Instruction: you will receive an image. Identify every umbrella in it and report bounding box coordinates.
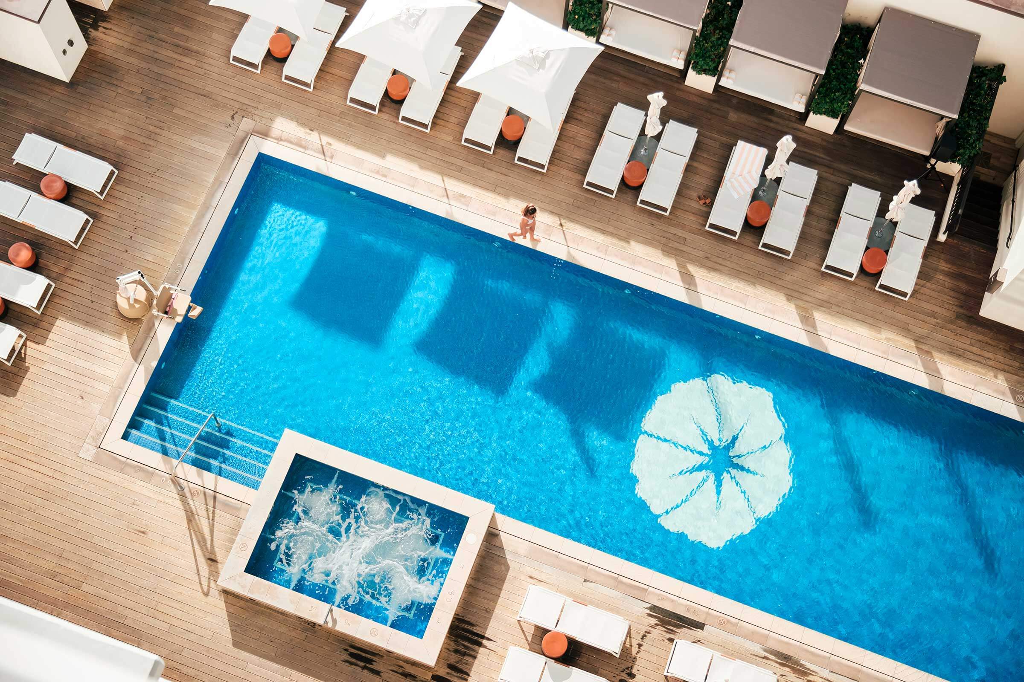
[336,0,482,88]
[457,1,604,132]
[748,129,801,209]
[865,171,920,251]
[209,0,320,47]
[628,84,668,170]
